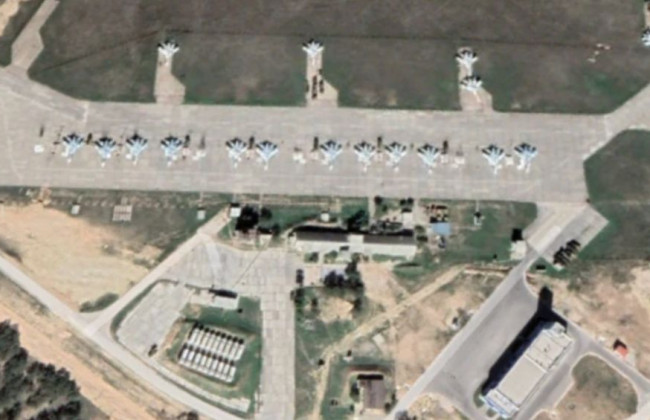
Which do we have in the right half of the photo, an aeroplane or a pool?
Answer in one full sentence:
There is an aeroplane in the right half of the photo.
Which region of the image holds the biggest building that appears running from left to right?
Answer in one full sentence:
The biggest building that appears running from left to right is located in the center region of the scene.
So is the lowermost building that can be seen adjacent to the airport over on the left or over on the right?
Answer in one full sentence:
The lowermost building that can be seen adjacent to the airport sits on the right side.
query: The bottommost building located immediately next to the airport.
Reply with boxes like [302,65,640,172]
[484,317,570,420]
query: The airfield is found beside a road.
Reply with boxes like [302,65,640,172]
[0,0,650,271]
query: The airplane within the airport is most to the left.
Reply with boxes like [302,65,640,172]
[62,135,84,161]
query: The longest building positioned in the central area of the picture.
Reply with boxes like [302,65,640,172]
[296,232,416,261]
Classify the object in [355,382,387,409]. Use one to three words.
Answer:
building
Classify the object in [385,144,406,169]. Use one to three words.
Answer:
airplane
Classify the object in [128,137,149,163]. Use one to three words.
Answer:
airplane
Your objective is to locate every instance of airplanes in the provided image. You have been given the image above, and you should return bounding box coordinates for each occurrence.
[385,144,406,169]
[226,140,248,167]
[354,143,375,169]
[482,147,503,173]
[303,38,324,63]
[418,146,439,172]
[321,141,341,167]
[161,138,182,164]
[455,49,476,74]
[128,137,149,163]
[637,30,650,55]
[463,74,484,99]
[515,146,536,172]
[62,135,84,161]
[95,139,116,164]
[256,142,277,168]
[159,38,180,63]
